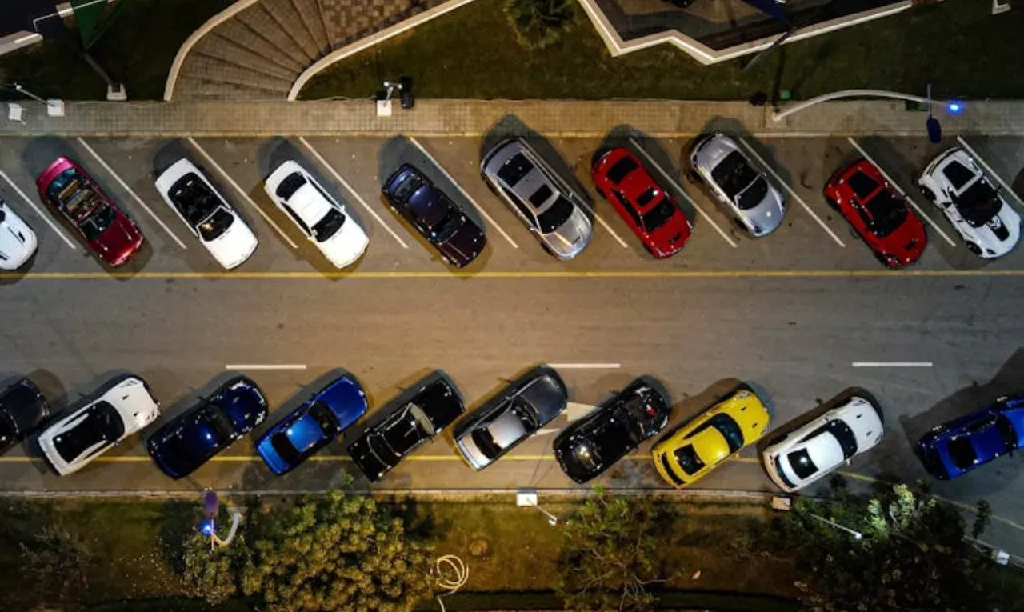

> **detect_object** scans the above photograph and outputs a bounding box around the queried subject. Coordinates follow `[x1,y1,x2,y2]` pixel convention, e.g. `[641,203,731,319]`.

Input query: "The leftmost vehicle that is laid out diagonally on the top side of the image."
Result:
[39,157,141,261]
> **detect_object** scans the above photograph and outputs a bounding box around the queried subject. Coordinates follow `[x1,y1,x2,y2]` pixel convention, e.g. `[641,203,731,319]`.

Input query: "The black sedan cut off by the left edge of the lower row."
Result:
[0,380,52,452]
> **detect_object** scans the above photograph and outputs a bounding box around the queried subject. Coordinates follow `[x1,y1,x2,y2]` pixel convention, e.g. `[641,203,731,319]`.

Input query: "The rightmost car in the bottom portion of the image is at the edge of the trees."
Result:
[913,399,1024,480]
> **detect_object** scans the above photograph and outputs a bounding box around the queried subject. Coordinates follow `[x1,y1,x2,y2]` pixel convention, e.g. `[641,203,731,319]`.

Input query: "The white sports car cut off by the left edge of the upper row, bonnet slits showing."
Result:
[0,195,37,267]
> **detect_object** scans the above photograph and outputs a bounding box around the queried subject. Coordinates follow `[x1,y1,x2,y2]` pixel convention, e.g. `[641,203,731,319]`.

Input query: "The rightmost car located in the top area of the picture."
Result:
[913,150,1014,255]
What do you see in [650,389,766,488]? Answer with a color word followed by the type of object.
yellow car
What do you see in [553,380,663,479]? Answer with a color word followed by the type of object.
black car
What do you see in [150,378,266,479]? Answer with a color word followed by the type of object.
black car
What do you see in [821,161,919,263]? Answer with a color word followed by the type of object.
red car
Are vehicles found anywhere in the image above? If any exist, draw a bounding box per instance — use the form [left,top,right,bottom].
[348,376,460,477]
[687,137,779,234]
[150,378,266,479]
[650,389,766,488]
[0,195,37,267]
[157,158,255,264]
[588,147,687,259]
[913,150,1014,255]
[265,161,363,266]
[759,398,877,493]
[257,372,366,471]
[553,380,663,479]
[821,161,919,263]
[39,380,159,472]
[0,380,52,452]
[39,157,141,261]
[382,163,483,265]
[913,399,1024,480]
[481,139,589,257]
[451,369,564,469]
